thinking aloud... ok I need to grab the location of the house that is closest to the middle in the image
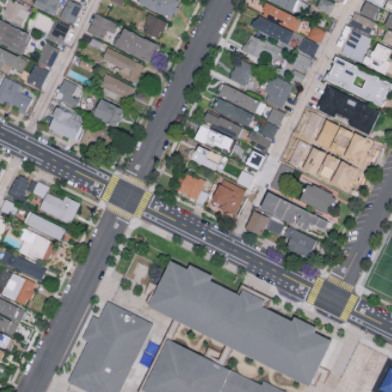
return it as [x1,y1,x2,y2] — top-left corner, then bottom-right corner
[179,174,208,206]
